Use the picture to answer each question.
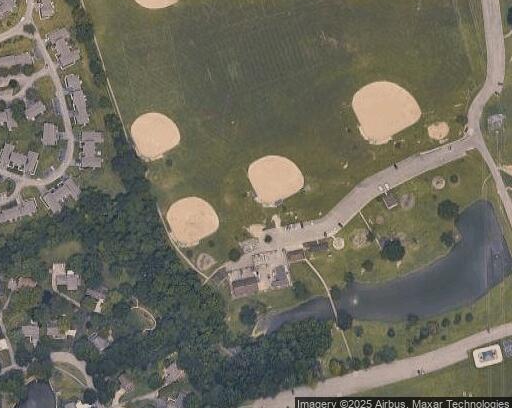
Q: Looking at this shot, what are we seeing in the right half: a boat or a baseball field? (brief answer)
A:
baseball field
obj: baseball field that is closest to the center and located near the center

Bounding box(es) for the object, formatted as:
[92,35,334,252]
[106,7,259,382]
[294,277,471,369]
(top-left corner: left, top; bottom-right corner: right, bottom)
[247,154,305,208]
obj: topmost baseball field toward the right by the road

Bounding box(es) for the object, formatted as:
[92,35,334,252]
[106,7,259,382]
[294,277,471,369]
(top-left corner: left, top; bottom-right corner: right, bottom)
[352,80,422,145]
